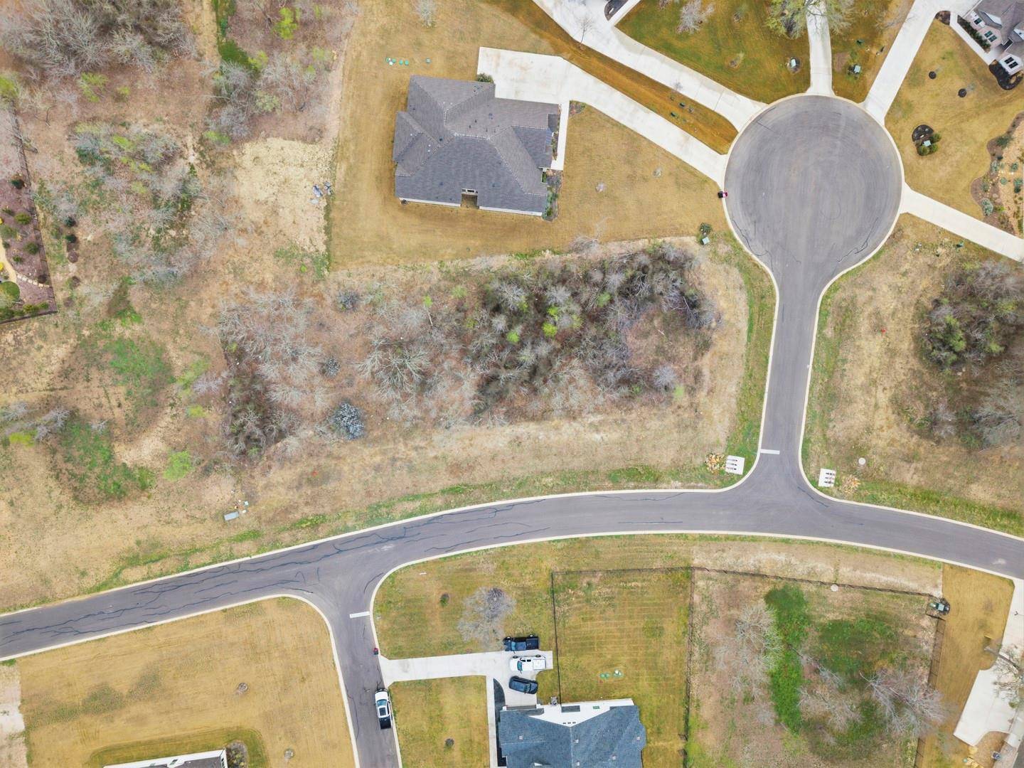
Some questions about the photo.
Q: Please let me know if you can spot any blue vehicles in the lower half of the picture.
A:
Yes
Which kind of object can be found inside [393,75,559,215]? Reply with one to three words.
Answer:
house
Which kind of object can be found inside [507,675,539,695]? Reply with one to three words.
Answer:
car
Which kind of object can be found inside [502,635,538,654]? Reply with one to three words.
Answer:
vehicle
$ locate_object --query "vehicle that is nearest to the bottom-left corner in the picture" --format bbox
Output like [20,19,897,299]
[373,689,392,731]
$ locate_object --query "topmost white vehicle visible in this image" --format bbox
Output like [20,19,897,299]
[509,655,546,674]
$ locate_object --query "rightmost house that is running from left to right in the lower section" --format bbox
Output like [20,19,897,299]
[498,698,646,768]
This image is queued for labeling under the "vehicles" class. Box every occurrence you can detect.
[507,675,539,695]
[502,635,538,654]
[373,689,392,731]
[509,655,546,674]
